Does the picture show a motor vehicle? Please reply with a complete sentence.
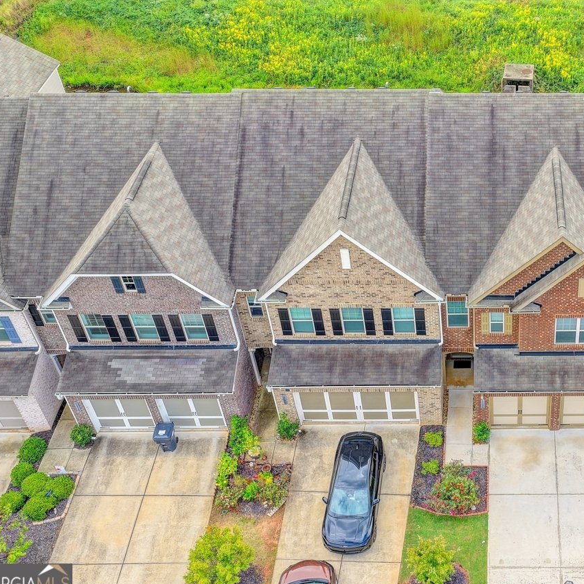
Yes, there's a motor vehicle down there.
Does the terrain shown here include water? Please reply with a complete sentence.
No, there is no water in the image.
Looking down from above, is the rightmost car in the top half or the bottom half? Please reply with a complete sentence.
You can find the rightmost car in the bottom half.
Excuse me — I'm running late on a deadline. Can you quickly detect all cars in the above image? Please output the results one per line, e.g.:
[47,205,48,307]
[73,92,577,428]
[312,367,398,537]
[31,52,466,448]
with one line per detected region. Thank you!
[320,429,384,552]
[283,564,338,584]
